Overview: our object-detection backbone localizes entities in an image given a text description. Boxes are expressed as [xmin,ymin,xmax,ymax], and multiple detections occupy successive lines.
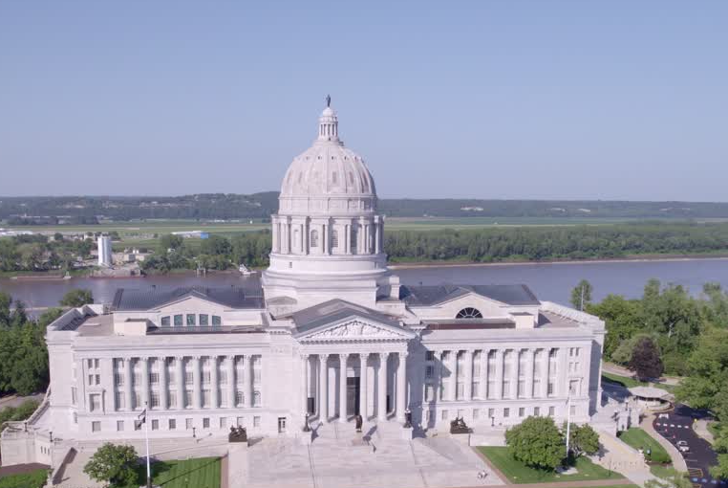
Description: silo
[98,233,112,267]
